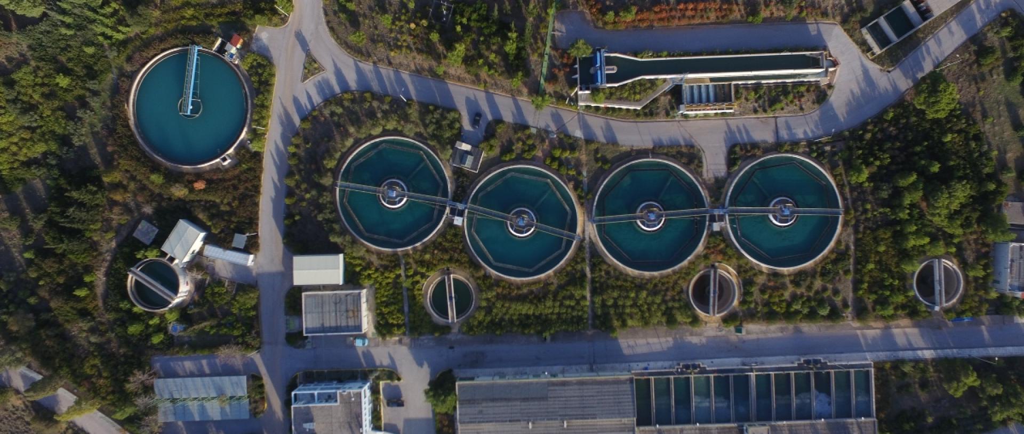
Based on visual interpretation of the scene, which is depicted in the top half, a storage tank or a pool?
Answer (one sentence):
What appears in the top half is a storage tank.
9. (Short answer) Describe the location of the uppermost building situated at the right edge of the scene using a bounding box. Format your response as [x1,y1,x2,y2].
[993,201,1024,229]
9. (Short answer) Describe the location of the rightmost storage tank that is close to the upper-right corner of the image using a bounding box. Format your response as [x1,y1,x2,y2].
[858,0,963,60]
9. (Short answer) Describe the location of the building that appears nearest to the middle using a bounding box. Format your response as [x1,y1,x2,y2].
[452,141,484,173]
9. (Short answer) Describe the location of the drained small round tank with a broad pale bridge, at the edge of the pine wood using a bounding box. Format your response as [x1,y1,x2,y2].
[906,253,964,311]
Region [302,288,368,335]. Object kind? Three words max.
building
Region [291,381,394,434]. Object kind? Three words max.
building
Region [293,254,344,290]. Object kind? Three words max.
shed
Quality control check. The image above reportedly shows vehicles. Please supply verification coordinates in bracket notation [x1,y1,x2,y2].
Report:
[473,113,482,129]
[354,338,369,346]
[387,399,404,408]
